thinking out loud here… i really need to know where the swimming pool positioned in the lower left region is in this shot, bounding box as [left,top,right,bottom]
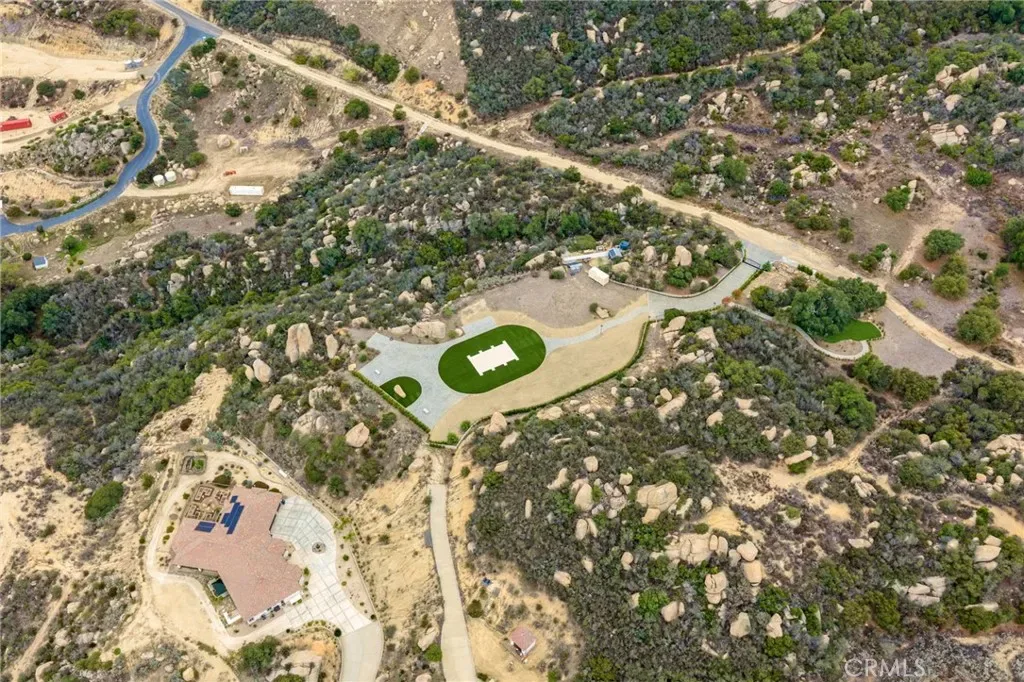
[208,576,228,599]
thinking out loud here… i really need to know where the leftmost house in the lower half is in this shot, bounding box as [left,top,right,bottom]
[170,486,303,626]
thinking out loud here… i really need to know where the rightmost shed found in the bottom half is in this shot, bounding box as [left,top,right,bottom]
[510,626,538,657]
